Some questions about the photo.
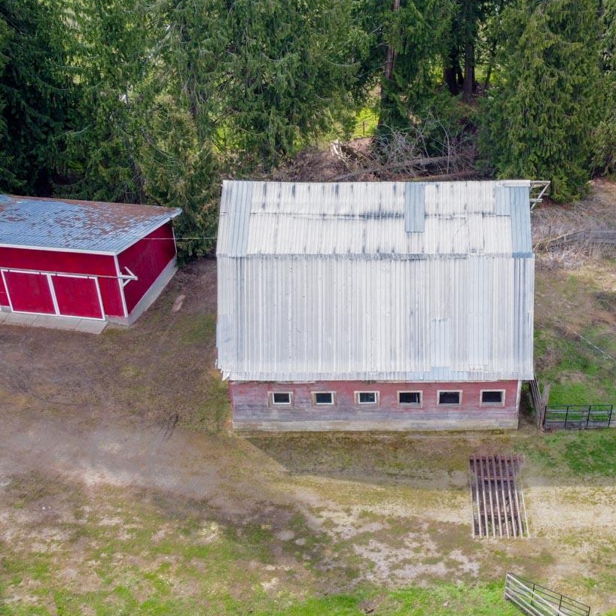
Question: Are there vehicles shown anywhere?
No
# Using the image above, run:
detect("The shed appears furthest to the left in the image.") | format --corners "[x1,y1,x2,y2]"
[0,199,185,326]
